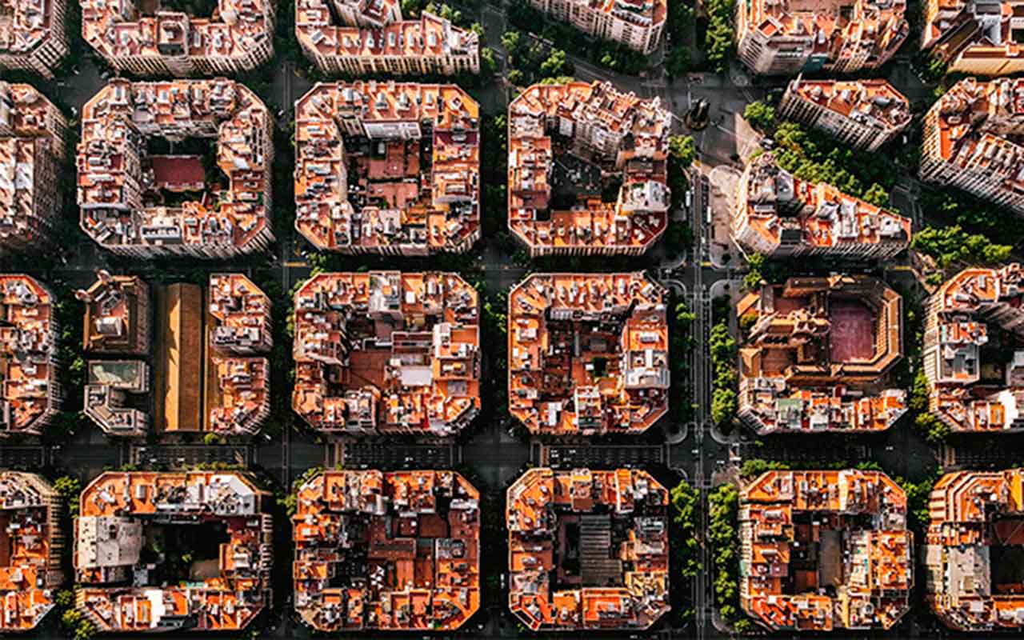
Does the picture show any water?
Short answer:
No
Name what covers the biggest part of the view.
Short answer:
buildings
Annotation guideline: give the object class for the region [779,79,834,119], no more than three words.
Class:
building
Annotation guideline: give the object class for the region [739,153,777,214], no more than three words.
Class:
building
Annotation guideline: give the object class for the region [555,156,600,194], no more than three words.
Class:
shed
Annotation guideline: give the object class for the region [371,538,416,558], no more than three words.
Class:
shed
